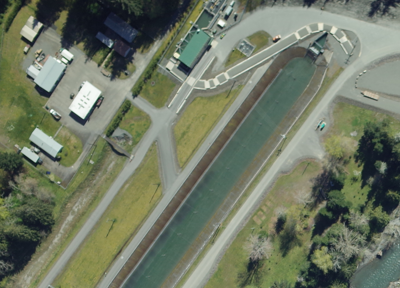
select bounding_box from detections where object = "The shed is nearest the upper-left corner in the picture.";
[20,17,45,41]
